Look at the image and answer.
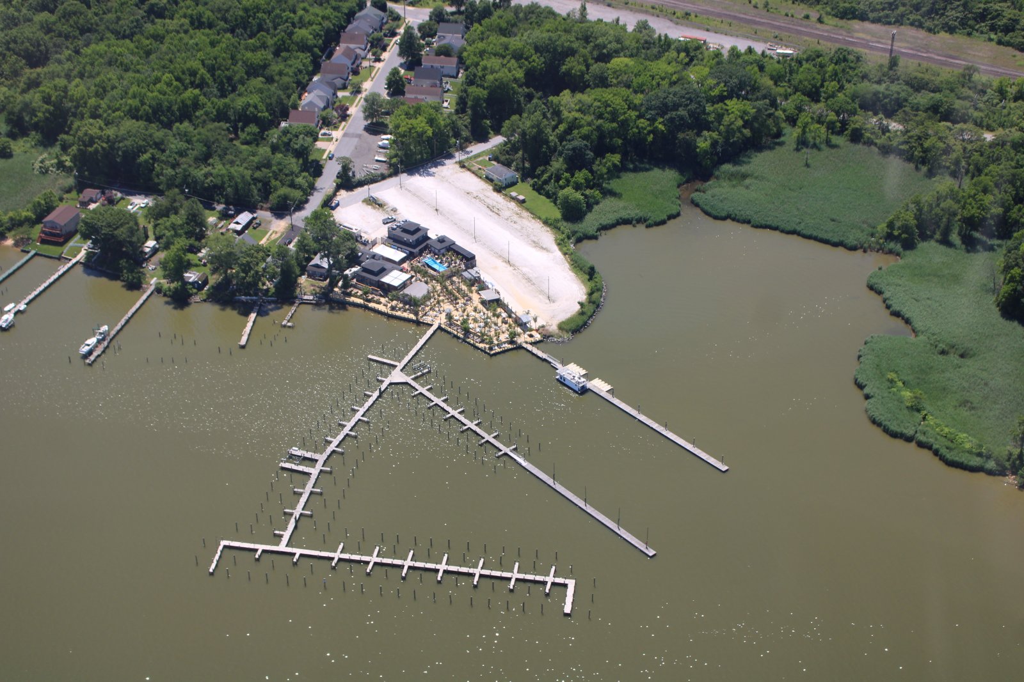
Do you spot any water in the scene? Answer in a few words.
Yes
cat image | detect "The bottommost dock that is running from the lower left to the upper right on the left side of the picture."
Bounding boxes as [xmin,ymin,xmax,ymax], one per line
[272,373,394,548]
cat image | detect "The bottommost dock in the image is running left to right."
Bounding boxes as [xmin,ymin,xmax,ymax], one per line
[207,540,578,619]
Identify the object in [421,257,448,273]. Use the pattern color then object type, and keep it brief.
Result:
blue swimming pool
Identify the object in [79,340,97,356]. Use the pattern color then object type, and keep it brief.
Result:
white boat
